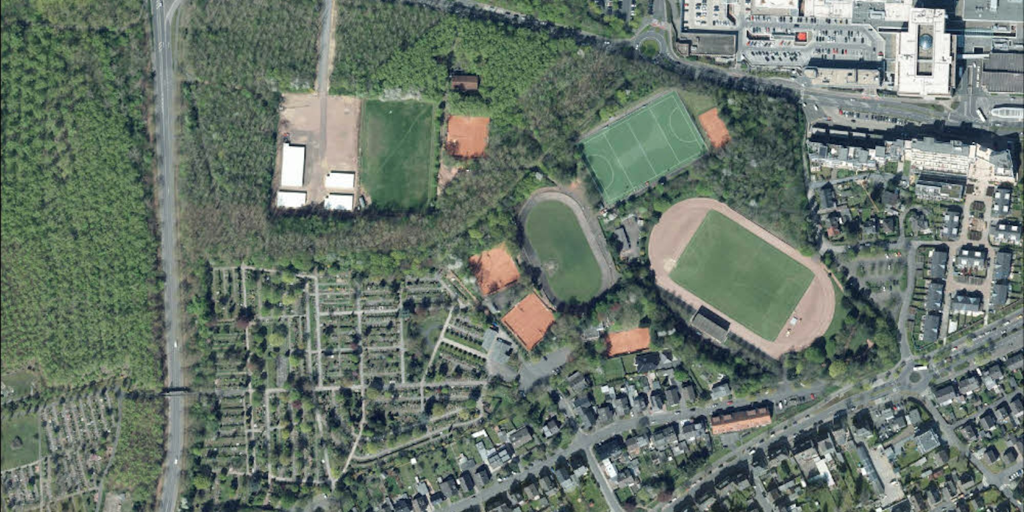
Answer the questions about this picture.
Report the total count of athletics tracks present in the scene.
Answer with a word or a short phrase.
2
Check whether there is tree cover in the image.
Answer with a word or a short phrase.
Yes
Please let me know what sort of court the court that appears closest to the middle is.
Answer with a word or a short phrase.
tennis court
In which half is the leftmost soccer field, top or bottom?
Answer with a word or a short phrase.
top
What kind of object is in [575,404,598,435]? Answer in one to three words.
house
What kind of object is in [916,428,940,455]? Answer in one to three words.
building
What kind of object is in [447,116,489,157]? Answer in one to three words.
tennis court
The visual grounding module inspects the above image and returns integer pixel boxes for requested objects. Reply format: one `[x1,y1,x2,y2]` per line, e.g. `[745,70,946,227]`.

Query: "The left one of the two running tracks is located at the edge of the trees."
[518,186,618,307]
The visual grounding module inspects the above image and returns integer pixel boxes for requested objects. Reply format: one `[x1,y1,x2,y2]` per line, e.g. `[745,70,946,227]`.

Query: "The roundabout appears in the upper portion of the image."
[633,32,667,65]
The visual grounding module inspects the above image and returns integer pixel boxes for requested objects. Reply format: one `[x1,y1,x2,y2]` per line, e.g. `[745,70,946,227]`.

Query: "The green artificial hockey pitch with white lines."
[579,91,708,205]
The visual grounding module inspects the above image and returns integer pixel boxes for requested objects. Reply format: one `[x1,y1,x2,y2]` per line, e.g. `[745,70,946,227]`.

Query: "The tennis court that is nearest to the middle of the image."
[471,242,520,295]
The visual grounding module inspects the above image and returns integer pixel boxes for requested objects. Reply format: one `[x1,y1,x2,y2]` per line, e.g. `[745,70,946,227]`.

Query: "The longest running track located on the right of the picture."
[648,197,844,360]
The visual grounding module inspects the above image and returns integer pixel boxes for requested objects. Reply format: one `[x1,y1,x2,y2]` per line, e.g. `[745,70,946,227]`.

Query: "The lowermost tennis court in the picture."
[607,328,650,358]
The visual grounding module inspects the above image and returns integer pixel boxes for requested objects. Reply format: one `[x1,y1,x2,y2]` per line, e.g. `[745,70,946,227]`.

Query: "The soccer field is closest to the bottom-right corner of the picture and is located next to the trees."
[669,210,815,341]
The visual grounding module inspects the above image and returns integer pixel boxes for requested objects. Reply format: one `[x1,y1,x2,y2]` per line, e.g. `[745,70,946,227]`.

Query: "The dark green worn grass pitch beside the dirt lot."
[358,99,434,209]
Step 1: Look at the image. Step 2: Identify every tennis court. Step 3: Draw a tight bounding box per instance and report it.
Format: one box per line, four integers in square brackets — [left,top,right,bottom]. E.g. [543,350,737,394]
[607,328,650,358]
[471,242,520,295]
[700,108,729,147]
[447,116,489,157]
[501,293,556,350]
